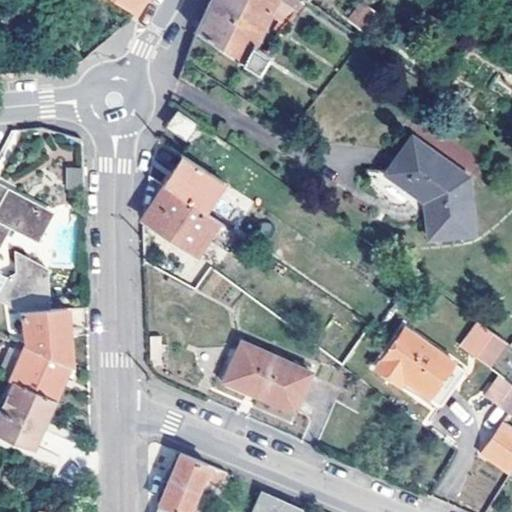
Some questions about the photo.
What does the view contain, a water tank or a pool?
pool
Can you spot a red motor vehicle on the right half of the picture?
No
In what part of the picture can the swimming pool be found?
left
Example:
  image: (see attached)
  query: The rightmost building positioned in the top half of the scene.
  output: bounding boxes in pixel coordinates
[384,132,480,242]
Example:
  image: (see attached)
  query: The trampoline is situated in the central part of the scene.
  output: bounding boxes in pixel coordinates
[258,218,276,237]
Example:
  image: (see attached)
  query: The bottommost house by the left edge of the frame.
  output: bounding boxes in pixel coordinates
[0,384,58,452]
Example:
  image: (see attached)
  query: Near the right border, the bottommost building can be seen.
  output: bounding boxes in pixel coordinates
[480,422,512,476]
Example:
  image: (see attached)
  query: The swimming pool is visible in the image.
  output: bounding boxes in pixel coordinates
[54,214,78,268]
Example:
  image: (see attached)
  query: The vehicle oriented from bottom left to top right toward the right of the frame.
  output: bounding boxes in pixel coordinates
[482,406,504,430]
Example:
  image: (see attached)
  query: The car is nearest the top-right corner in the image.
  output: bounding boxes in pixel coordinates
[322,163,339,181]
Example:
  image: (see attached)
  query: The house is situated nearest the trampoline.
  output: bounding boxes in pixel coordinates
[140,156,228,260]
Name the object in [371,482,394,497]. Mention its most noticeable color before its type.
white car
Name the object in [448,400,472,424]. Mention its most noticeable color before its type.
white vehicle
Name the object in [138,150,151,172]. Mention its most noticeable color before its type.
white vehicle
